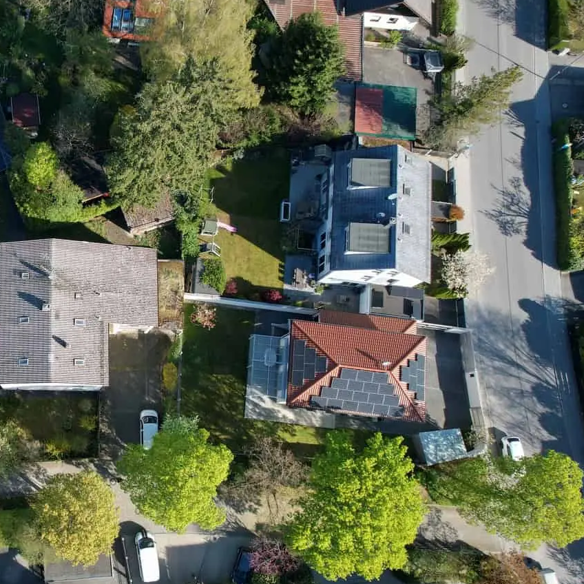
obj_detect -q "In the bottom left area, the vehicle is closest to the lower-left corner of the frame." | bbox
[131,529,161,584]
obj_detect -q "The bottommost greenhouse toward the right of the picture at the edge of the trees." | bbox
[410,429,467,465]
